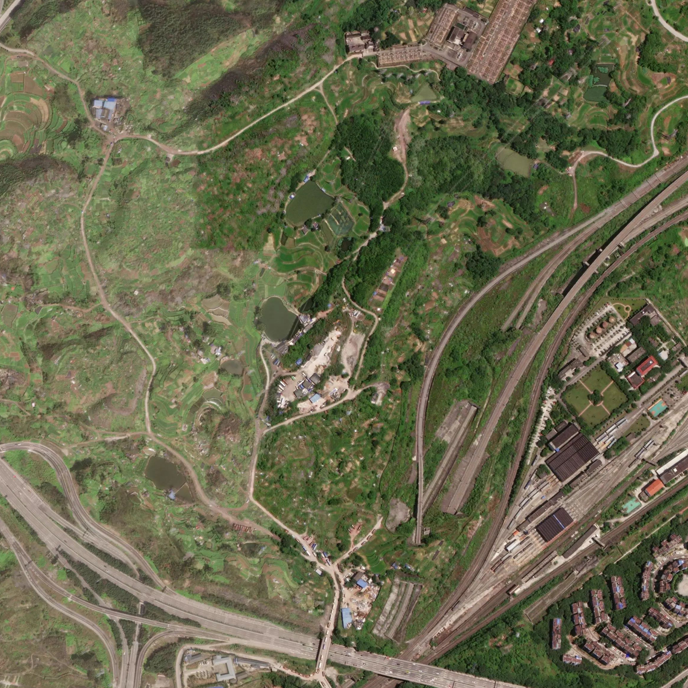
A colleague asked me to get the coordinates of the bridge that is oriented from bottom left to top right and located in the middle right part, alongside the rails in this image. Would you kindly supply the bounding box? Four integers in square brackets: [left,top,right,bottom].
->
[443,171,688,517]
